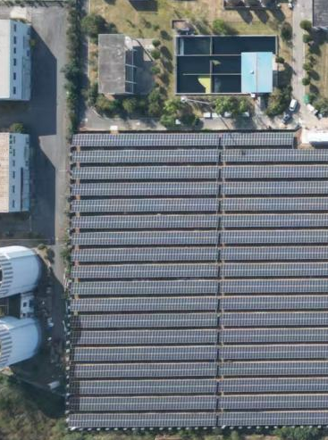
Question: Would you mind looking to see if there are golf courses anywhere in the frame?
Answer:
No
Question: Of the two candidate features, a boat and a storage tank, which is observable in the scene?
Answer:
storage tank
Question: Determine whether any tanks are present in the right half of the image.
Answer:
Yes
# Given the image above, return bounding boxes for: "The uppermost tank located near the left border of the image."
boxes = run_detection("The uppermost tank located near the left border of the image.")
[0,245,42,301]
